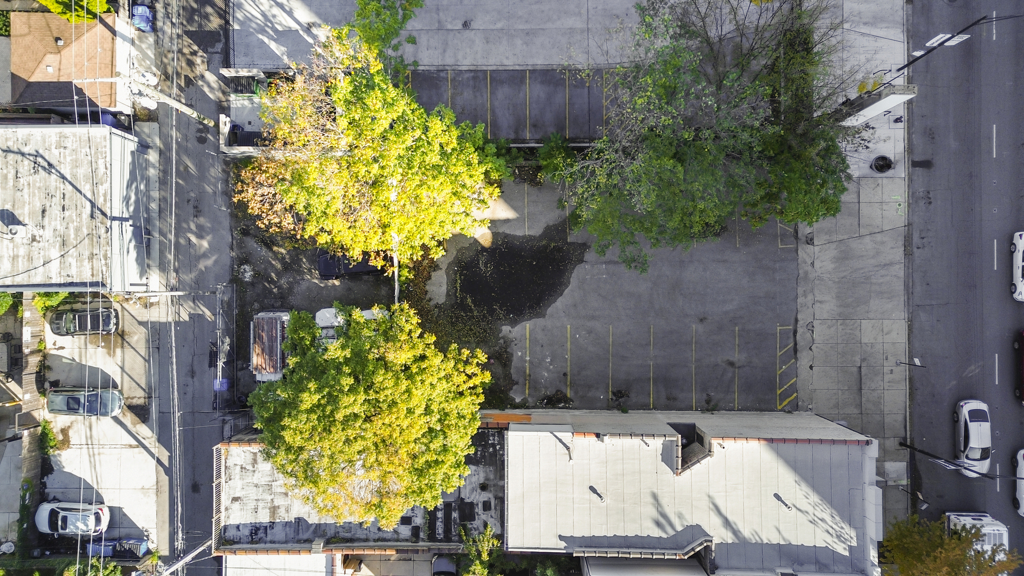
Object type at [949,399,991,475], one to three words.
car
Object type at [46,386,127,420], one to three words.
car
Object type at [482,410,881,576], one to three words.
building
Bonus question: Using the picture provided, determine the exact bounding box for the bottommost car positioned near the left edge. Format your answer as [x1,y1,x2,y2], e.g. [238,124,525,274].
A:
[37,501,114,538]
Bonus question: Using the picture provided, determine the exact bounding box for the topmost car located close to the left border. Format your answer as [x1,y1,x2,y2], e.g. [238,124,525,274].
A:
[51,306,122,339]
